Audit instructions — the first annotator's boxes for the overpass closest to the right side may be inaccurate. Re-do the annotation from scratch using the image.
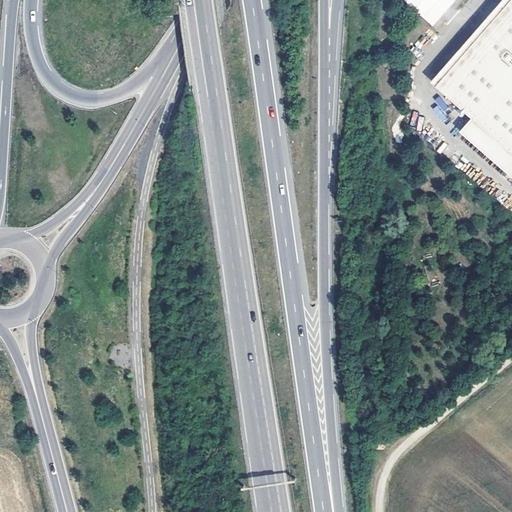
[174,0,232,132]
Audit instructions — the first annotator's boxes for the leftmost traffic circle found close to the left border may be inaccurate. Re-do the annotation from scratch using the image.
[0,229,55,328]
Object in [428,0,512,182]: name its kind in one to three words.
building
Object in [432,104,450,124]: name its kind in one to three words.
vehicle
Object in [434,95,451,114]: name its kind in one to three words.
vehicle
